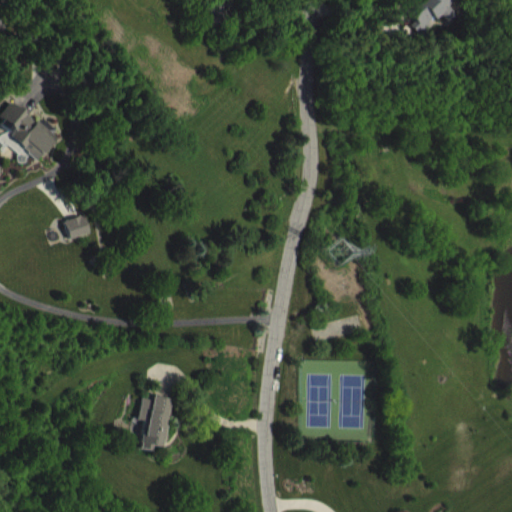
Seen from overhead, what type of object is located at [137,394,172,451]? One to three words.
house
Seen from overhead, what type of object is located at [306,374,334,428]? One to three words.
tennis court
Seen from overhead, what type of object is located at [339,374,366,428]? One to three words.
tennis court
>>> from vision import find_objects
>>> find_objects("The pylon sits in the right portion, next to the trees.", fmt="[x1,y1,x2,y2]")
[328,237,376,266]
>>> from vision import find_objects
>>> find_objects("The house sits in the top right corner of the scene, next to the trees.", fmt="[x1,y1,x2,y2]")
[412,0,456,31]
